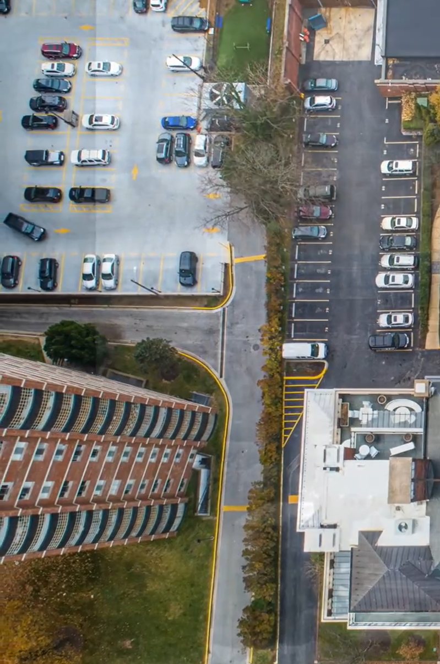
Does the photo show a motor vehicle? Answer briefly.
Yes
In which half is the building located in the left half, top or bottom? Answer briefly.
bottom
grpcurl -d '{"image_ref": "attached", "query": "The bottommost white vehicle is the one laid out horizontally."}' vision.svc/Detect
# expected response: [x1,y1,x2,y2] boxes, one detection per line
[282,343,325,359]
